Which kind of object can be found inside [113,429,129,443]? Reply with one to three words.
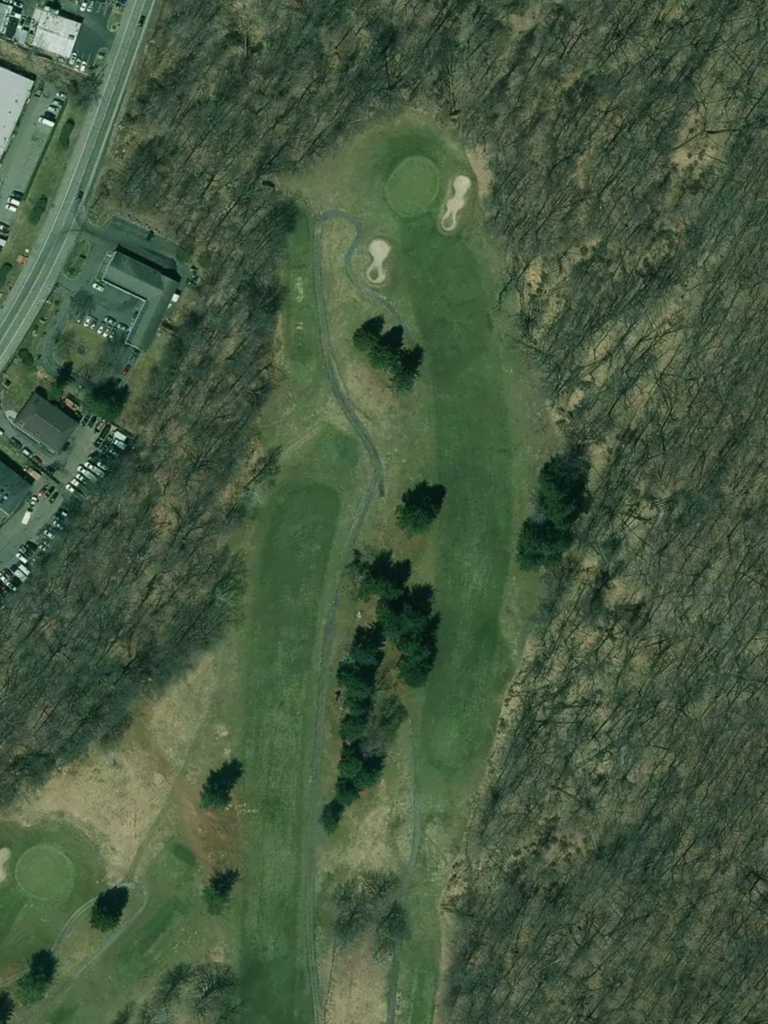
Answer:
vehicle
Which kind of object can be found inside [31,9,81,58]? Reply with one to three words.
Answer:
building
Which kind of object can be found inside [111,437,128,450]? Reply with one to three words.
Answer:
vehicle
